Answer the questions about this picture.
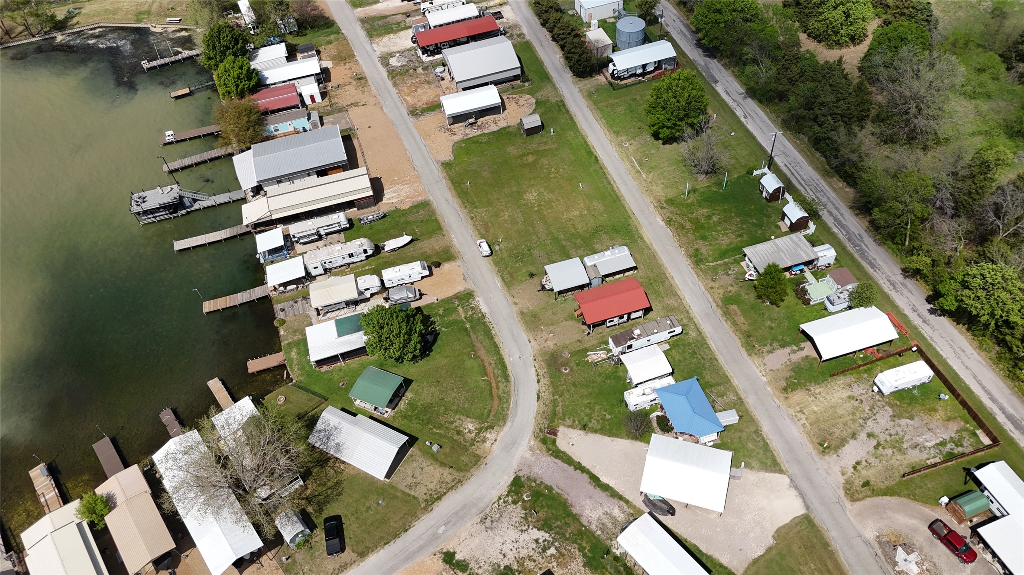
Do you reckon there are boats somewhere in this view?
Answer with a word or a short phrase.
Yes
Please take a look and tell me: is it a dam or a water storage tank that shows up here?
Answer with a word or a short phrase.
water storage tank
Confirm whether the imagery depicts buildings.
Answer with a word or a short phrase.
Yes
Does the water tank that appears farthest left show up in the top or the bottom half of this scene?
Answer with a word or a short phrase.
top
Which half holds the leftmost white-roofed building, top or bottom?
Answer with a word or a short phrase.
bottom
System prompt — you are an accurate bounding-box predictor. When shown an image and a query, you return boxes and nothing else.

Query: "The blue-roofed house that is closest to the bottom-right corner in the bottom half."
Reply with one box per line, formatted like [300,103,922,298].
[656,376,724,446]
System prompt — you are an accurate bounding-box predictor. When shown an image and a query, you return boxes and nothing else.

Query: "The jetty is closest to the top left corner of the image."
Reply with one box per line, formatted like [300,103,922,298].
[143,48,200,71]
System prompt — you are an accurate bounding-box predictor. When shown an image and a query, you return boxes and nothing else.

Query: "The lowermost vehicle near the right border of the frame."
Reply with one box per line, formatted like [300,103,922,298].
[926,518,978,568]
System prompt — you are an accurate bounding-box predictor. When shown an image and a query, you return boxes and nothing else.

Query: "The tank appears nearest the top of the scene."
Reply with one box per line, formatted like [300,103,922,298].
[612,11,645,49]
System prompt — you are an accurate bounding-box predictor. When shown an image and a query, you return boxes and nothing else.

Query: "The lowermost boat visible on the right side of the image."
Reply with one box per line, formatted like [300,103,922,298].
[643,495,677,519]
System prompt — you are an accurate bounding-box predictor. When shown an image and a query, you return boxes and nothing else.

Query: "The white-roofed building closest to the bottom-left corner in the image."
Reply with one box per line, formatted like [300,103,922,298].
[22,503,103,575]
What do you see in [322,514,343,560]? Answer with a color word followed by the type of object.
black truck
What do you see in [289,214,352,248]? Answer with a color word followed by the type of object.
white camper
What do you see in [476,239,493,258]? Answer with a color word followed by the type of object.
white car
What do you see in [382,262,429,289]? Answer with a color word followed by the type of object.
white vehicle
